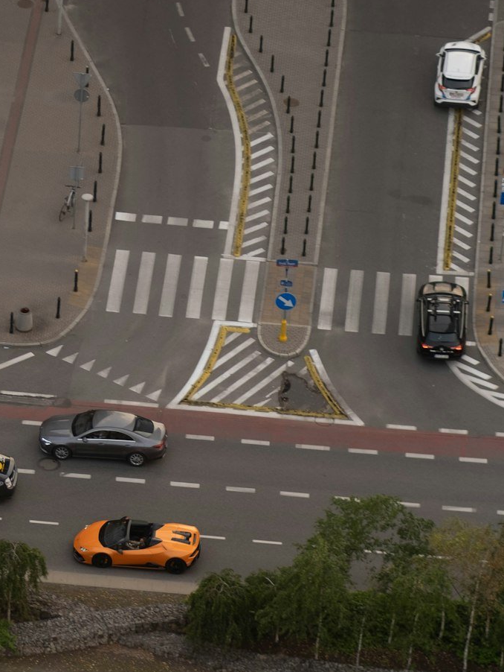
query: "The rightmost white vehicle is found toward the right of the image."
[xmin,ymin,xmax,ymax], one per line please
[436,42,488,107]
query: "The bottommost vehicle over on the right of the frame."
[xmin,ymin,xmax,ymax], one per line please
[417,289,471,363]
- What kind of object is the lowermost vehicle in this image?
automobile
